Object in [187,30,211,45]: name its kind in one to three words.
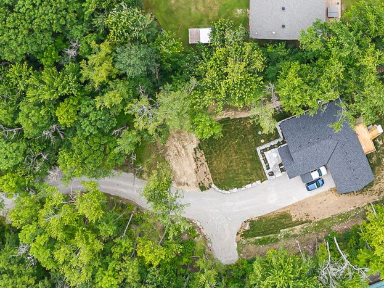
shed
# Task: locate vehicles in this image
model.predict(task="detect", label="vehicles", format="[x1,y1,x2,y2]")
[305,177,325,191]
[300,165,327,184]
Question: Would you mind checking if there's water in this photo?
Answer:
No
